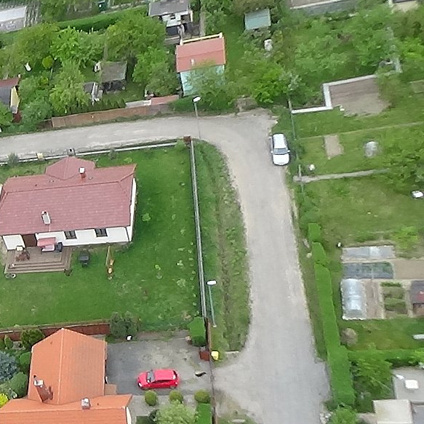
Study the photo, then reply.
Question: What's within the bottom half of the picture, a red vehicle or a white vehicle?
red vehicle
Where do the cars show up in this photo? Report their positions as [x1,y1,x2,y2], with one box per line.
[269,131,290,165]
[138,368,180,390]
